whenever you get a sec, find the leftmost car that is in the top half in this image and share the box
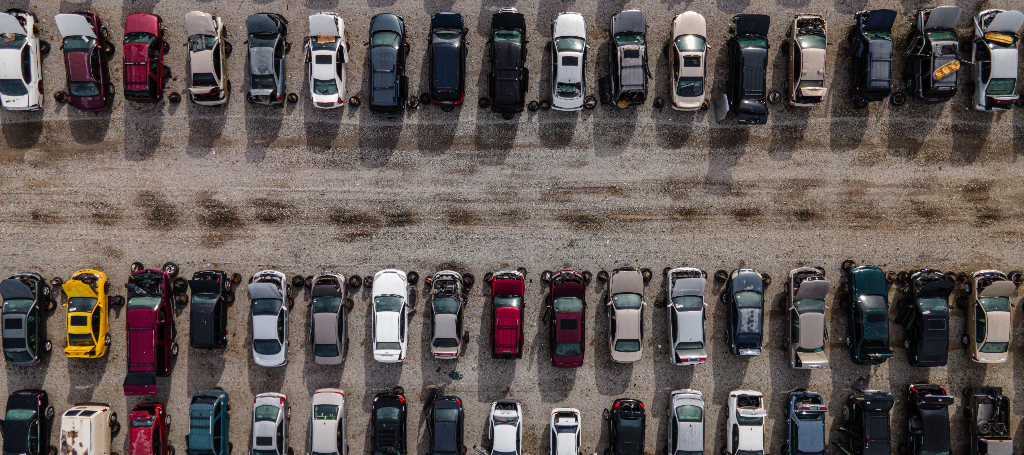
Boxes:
[0,9,46,110]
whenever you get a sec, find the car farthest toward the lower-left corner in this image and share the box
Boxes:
[1,389,52,455]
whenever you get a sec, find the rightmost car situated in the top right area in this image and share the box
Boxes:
[972,10,1021,111]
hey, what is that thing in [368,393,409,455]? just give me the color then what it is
black car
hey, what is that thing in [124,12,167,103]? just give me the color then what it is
red car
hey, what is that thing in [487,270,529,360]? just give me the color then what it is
red car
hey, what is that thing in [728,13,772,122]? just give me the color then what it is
black car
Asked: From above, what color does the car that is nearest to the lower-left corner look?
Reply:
black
